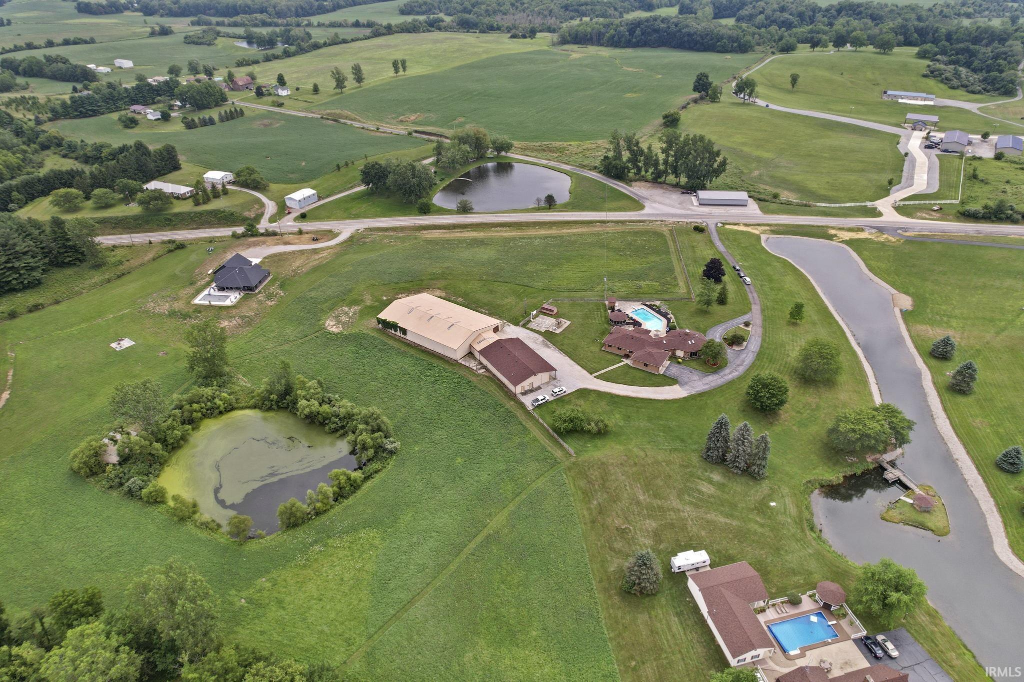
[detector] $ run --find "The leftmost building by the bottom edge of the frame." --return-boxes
[688,561,775,665]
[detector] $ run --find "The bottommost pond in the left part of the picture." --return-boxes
[213,411,348,537]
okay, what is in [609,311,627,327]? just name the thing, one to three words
gazebo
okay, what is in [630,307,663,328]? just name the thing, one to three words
swimming pool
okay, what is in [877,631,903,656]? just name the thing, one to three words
car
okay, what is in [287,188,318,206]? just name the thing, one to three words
shed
